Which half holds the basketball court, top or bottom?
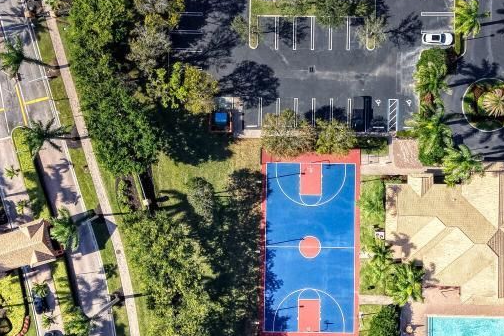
bottom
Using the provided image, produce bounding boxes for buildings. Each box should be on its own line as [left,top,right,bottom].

[386,162,504,304]
[0,219,61,275]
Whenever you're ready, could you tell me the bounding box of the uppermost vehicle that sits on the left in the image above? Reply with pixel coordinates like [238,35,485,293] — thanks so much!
[32,294,47,318]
